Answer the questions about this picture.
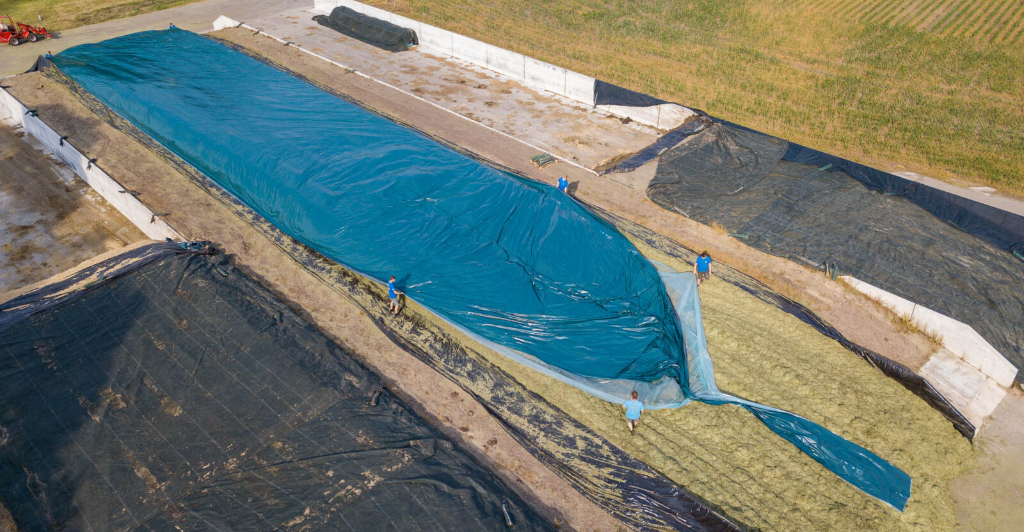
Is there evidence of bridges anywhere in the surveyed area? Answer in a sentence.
No, there is no bridge in the image.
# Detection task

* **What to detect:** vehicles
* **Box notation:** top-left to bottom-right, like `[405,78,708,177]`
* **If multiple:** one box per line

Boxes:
[0,14,57,44]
